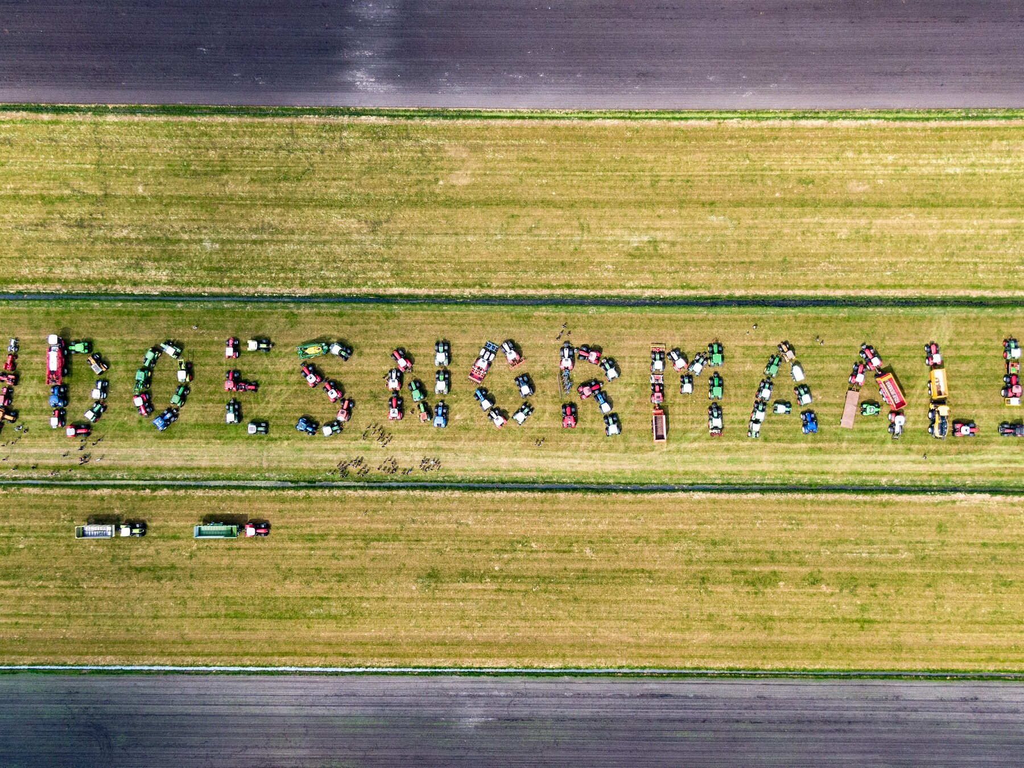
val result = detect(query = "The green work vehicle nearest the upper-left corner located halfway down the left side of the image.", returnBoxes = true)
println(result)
[70,342,92,354]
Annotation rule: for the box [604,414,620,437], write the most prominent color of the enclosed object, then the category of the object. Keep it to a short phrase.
white work vehicle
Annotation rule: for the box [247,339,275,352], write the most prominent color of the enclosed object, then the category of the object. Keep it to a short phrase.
white vehicle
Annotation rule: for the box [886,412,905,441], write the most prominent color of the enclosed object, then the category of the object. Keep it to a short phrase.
white work vehicle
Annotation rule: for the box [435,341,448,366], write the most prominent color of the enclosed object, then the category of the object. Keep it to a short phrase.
white vehicle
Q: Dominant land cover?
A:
grass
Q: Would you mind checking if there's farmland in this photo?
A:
Yes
